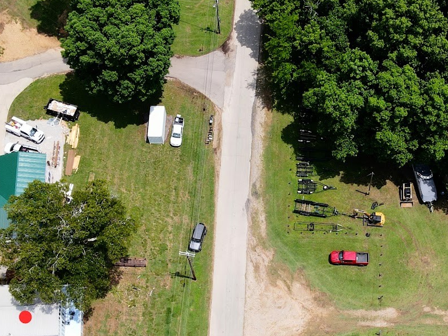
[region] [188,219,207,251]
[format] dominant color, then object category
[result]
gray car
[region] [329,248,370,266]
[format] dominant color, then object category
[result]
red vehicle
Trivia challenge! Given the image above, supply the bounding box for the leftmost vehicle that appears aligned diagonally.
[3,112,42,142]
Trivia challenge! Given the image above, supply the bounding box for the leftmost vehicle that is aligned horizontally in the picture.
[3,140,42,152]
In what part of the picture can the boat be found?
right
